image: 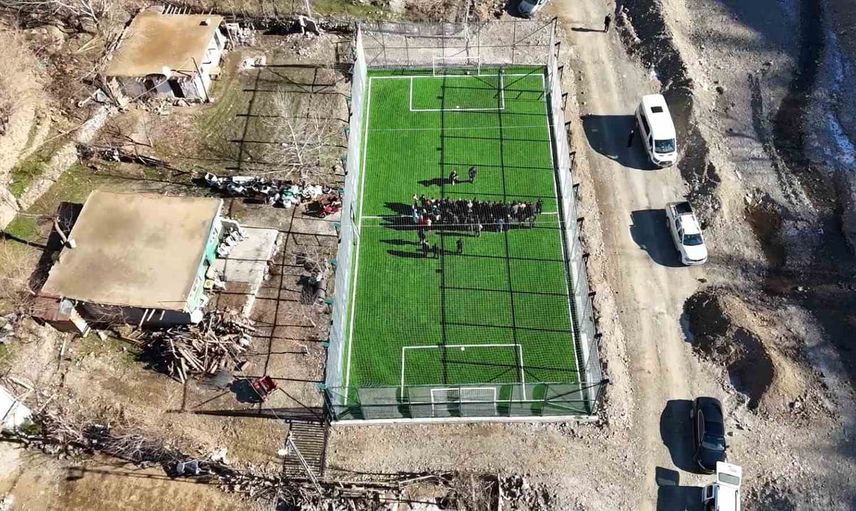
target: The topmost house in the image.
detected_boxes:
[108,9,227,97]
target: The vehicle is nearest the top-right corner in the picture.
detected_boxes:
[637,96,679,166]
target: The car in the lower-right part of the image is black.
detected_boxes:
[689,397,731,476]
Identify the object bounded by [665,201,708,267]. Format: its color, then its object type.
white truck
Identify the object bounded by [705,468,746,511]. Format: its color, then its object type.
white van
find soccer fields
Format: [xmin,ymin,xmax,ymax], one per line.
[334,60,595,422]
